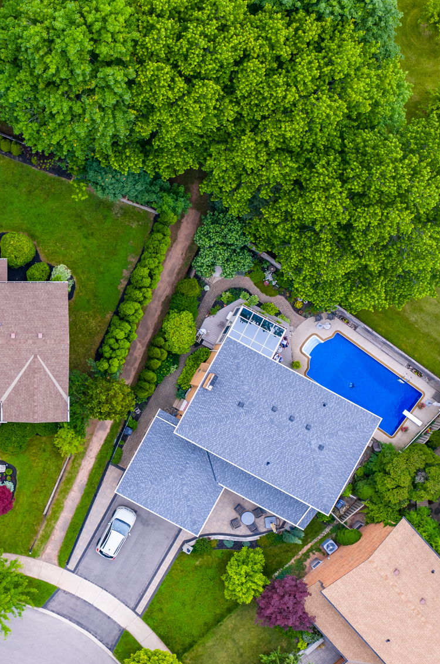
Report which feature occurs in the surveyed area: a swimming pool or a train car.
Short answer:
swimming pool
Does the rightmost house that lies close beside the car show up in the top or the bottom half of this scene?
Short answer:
bottom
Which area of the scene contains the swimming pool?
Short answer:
right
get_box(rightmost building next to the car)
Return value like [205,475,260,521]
[114,335,384,538]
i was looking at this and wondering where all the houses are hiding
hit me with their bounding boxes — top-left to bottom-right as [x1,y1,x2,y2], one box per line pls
[303,514,440,664]
[114,335,384,538]
[0,259,70,423]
